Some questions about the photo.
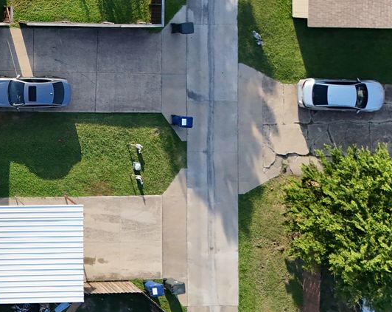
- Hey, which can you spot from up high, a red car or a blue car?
blue car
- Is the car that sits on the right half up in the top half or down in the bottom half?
top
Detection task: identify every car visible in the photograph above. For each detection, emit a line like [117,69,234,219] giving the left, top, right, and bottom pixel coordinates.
[297,75,386,114]
[0,74,70,113]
